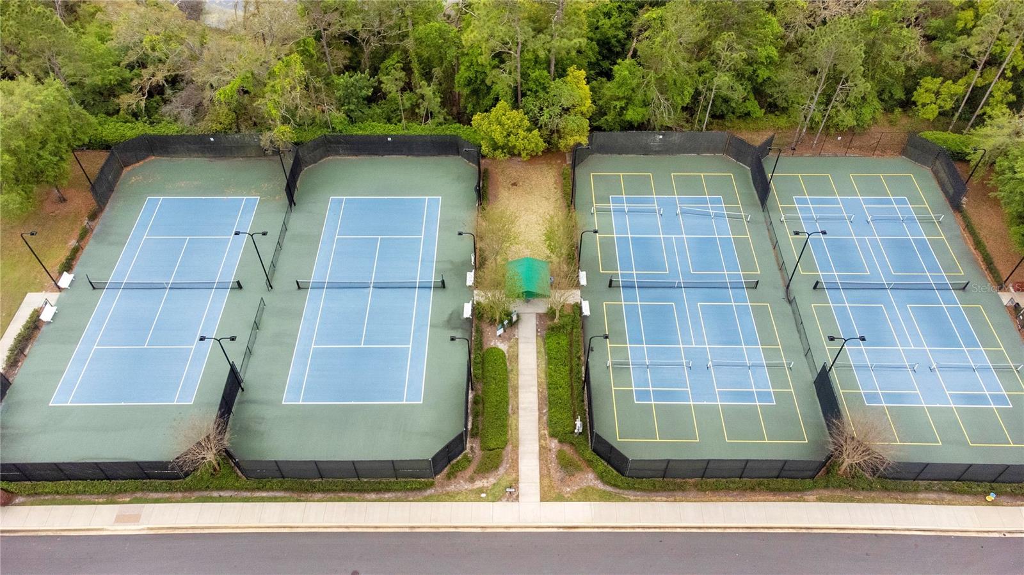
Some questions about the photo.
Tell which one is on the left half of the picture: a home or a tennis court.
tennis court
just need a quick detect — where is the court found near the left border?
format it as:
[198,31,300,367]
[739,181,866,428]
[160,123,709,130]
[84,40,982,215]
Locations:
[0,157,293,476]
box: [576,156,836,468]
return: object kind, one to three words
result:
tennis court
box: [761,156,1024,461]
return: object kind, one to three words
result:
tennis court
